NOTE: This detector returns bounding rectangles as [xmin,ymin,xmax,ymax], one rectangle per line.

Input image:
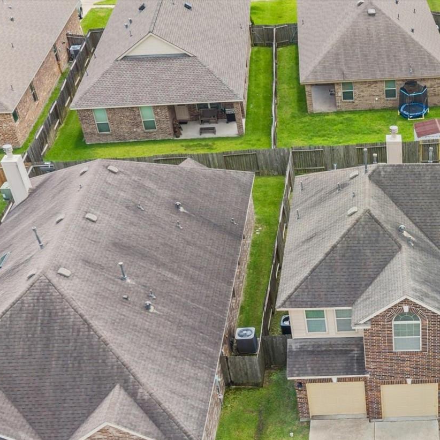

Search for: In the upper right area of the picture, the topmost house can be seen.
[298,0,440,112]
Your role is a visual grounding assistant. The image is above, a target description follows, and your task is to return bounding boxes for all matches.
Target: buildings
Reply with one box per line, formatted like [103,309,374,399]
[0,0,77,148]
[0,148,257,440]
[414,111,440,145]
[275,125,440,422]
[298,0,440,112]
[66,0,254,143]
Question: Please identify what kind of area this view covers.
residential area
